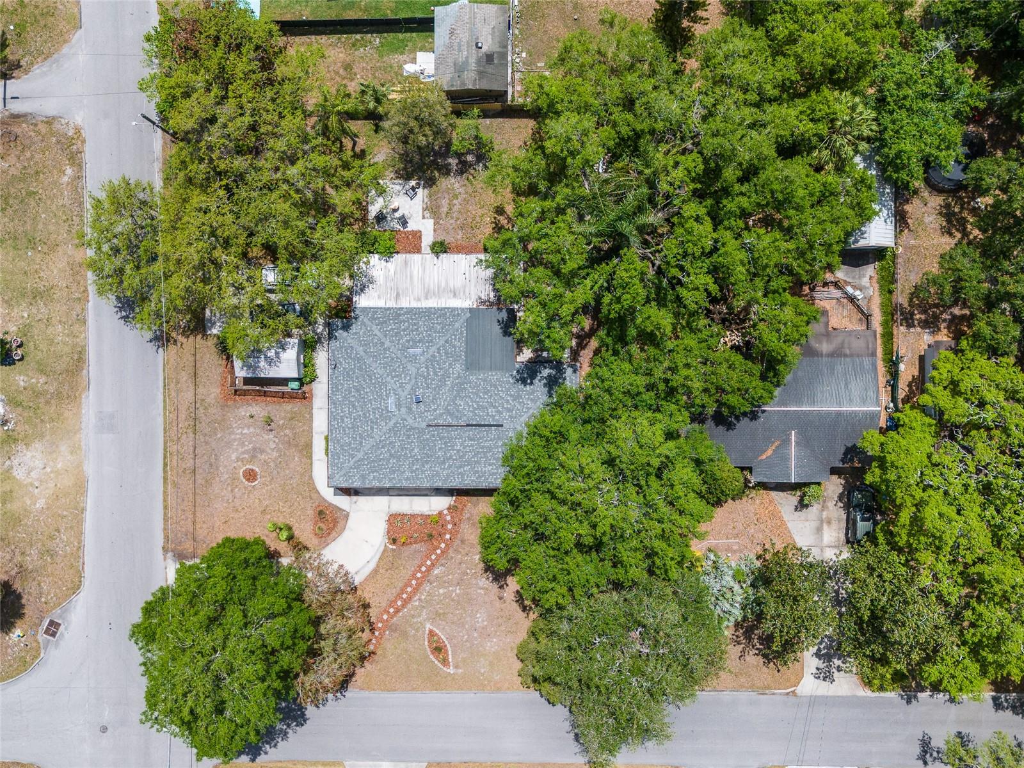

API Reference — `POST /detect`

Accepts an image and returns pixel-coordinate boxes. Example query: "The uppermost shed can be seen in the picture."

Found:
[435,0,509,119]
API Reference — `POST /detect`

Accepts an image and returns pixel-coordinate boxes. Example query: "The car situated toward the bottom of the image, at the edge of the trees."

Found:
[845,482,877,544]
